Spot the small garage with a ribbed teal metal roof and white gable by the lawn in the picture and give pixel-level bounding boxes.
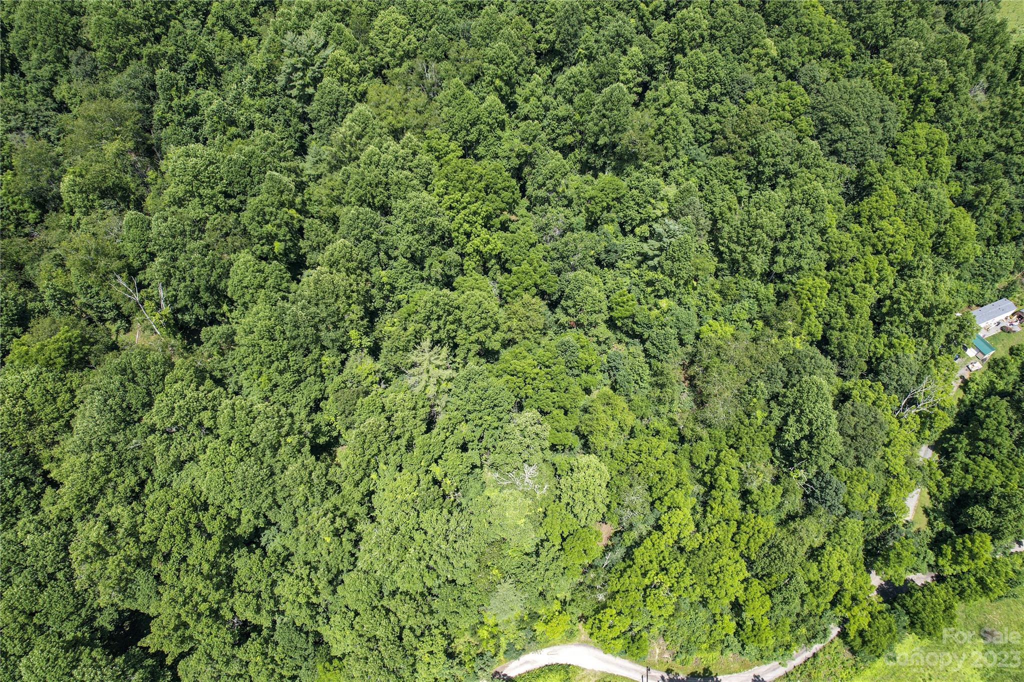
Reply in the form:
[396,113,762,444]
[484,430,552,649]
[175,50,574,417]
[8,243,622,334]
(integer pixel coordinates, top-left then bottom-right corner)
[969,335,995,359]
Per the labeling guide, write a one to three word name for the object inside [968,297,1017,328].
house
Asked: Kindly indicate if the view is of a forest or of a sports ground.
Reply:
forest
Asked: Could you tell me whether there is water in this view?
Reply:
No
